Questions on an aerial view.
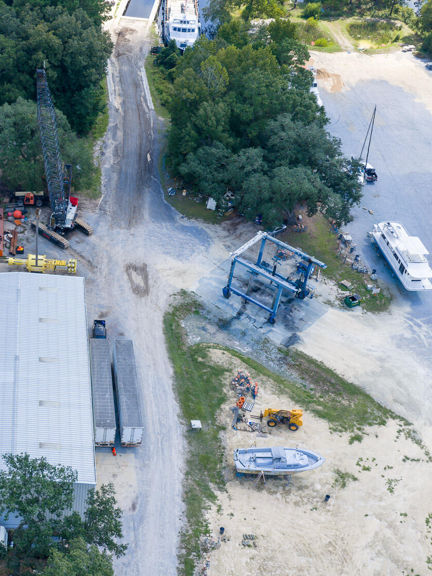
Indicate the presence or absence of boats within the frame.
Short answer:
Yes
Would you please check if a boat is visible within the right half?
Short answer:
Yes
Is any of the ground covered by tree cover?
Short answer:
Yes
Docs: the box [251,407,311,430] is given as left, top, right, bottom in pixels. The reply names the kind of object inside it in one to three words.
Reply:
work vehicle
